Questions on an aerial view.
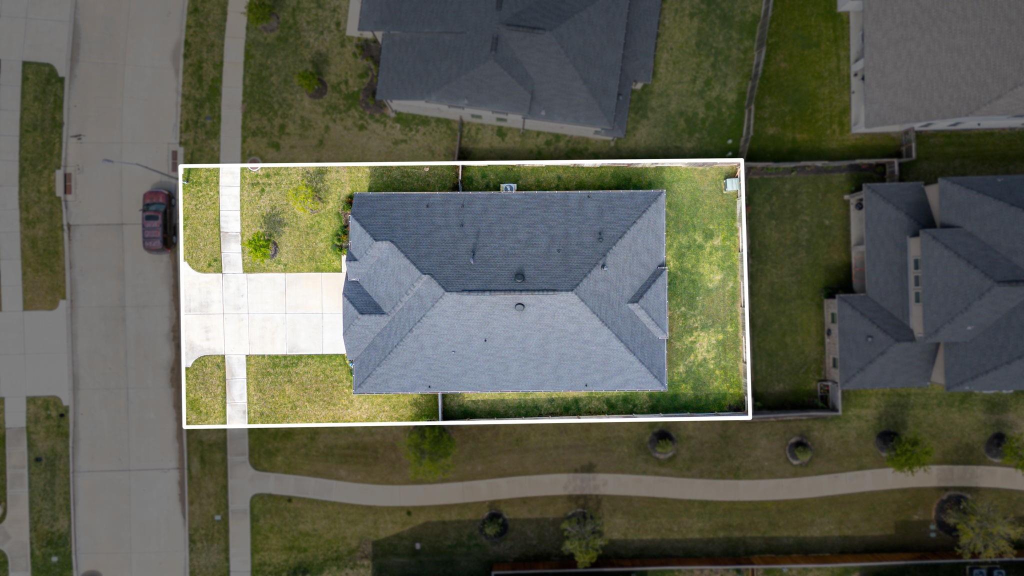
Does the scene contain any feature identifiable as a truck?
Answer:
No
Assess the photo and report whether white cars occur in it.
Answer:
No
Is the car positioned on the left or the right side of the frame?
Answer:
left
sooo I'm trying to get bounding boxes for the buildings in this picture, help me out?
[358,0,662,153]
[834,0,1024,133]
[342,190,668,393]
[823,176,1024,393]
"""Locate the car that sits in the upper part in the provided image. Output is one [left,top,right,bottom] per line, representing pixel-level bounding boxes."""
[141,189,177,254]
